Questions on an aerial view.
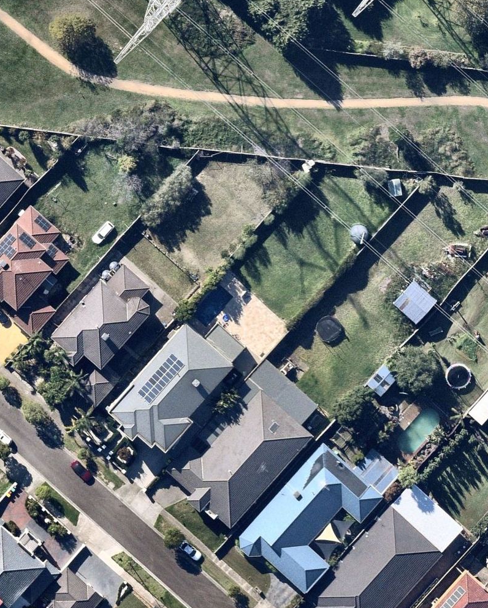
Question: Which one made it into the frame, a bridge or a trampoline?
trampoline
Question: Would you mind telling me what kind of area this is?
residential area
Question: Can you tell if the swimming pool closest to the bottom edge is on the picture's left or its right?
right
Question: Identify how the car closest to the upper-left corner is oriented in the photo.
at an angle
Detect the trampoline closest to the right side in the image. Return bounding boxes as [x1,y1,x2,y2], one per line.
[446,364,471,389]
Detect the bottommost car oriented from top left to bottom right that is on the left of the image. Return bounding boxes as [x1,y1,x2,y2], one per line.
[180,543,201,560]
